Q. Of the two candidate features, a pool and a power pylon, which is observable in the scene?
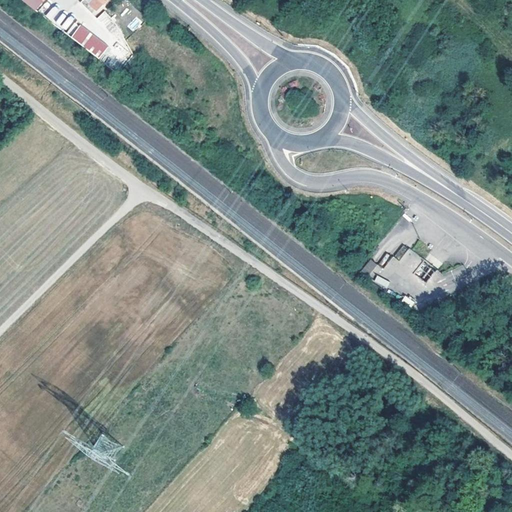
power pylon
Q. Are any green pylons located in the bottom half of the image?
No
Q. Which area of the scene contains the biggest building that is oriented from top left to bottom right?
top left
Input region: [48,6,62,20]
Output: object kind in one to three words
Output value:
vehicle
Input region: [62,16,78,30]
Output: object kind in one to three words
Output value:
vehicle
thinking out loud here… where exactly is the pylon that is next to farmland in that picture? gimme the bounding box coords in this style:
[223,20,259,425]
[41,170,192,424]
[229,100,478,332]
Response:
[63,430,131,476]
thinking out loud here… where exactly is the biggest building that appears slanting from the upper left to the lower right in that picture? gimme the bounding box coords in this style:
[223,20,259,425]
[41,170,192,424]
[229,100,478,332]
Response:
[72,28,110,60]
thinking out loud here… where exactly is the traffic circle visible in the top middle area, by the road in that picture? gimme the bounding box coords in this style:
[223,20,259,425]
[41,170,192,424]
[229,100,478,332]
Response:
[251,52,351,152]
